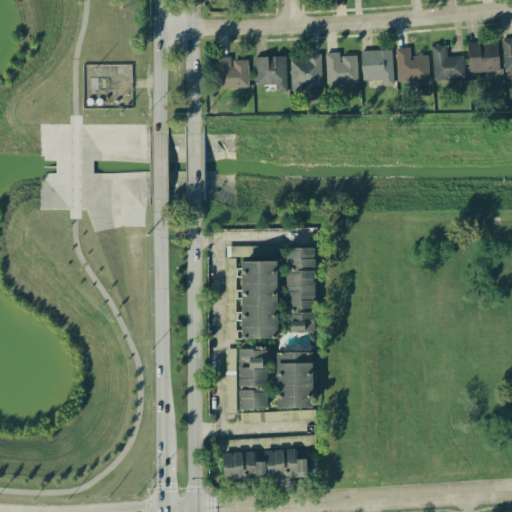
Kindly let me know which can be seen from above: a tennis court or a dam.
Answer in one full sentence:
Looking from above, you can make out a dam.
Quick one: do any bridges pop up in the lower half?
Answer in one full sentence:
No, I see no bridge in the lower half.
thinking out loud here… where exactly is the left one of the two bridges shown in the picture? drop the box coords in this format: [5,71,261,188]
[152,126,169,204]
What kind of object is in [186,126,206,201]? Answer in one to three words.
bridge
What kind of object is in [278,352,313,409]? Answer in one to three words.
building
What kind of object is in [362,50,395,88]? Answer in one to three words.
house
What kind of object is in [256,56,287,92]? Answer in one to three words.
house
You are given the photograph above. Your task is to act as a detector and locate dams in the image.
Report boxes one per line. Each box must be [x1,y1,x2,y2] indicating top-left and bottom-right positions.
[41,116,147,232]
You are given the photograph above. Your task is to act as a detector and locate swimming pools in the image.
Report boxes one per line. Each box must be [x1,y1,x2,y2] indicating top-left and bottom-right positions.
[280,333,314,351]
